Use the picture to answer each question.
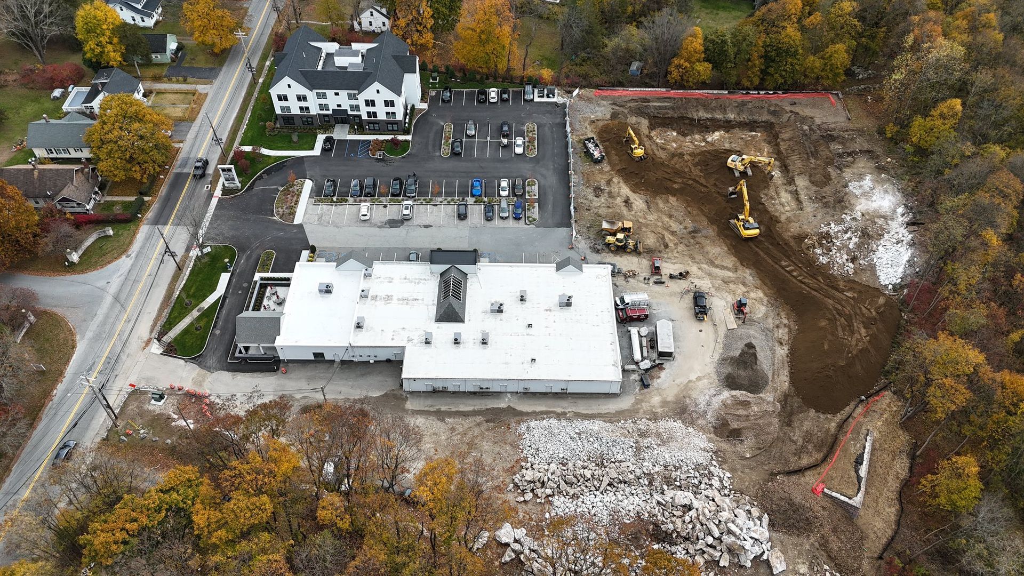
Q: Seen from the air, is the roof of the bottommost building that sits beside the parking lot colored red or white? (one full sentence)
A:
The roof of the bottommost building that sits beside the parking lot looks white in the image.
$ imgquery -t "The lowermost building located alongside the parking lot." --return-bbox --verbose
[230,243,624,395]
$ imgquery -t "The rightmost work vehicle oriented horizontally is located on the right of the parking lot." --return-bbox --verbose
[729,151,778,176]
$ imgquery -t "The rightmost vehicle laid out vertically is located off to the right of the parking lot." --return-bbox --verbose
[732,184,762,244]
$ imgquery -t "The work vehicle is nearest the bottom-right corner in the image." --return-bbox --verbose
[732,302,754,324]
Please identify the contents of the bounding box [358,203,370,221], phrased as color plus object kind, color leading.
white vehicle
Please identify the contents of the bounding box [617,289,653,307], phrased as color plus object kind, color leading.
white vehicle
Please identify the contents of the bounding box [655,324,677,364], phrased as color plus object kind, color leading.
white trailer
